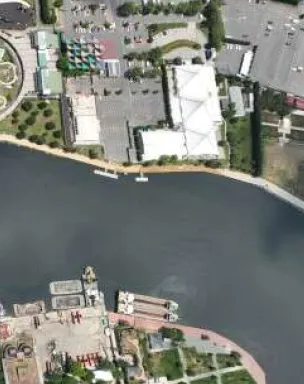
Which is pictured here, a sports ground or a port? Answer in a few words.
port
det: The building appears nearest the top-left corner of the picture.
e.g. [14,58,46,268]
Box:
[0,3,33,31]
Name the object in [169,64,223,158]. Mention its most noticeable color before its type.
white tent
